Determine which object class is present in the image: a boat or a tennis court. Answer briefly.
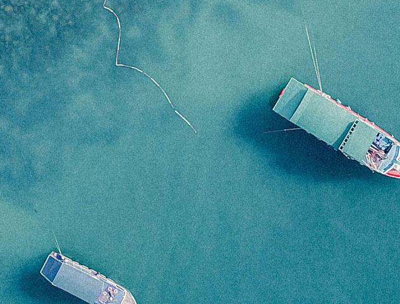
boat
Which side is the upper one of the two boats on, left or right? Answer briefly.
right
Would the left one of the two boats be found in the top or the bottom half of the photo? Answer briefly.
bottom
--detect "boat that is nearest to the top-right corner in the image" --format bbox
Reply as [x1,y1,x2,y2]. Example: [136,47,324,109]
[272,78,400,176]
